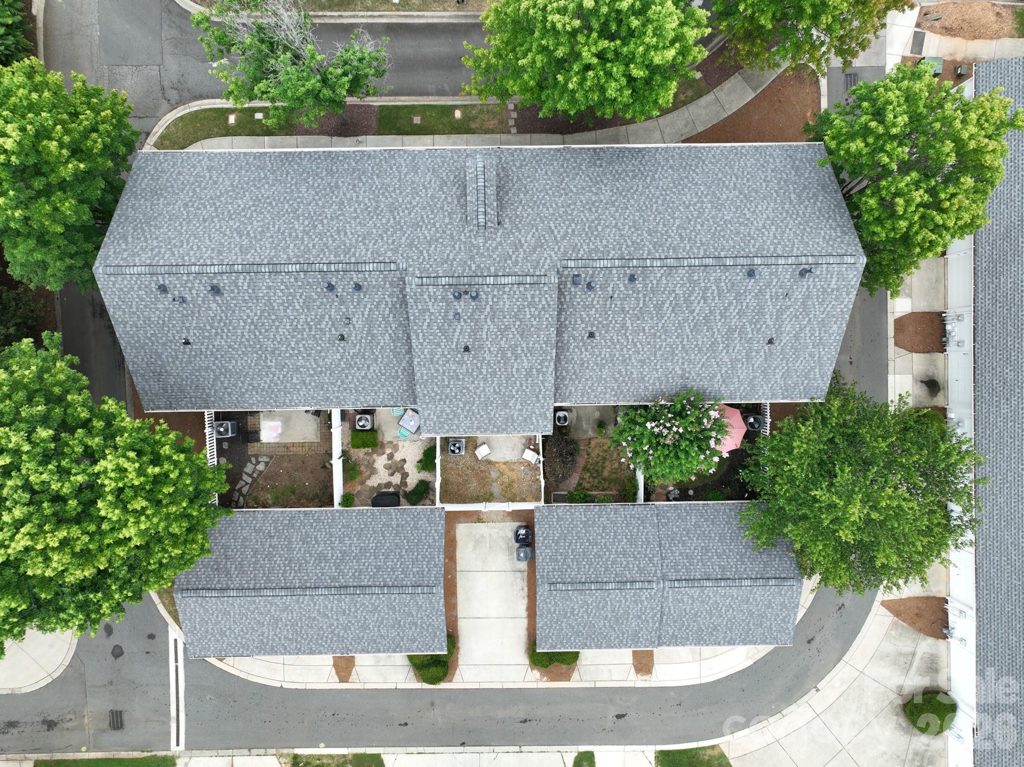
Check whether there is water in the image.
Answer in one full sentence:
No, there is no water in the image.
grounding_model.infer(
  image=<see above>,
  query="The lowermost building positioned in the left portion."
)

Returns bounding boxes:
[174,504,448,660]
